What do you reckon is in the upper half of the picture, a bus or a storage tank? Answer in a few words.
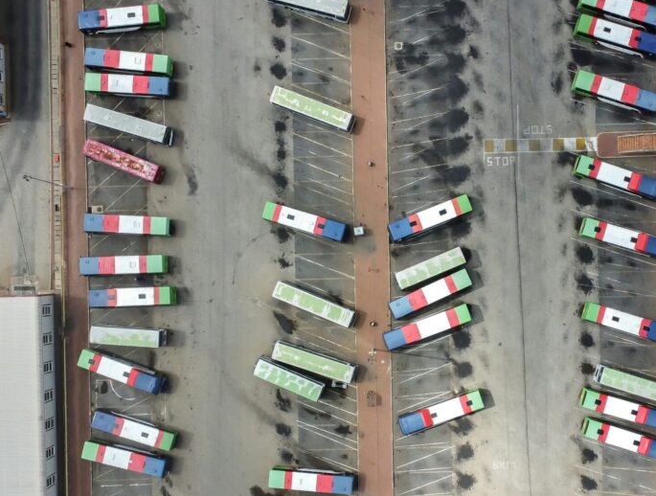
bus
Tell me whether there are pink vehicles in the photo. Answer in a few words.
Yes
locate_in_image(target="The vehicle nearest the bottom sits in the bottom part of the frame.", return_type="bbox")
[270,466,357,495]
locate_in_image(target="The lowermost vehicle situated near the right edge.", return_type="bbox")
[577,415,656,458]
